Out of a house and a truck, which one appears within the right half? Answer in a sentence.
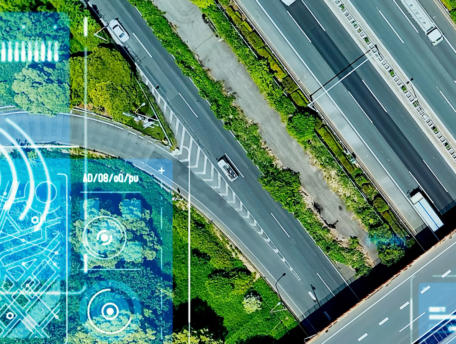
What appears within the right half is a truck.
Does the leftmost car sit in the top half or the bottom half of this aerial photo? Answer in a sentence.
Seen from above, the leftmost car lies in the top half of the view.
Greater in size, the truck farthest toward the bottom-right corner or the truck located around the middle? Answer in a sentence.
The truck farthest toward the bottom-right corner is larger than the truck located around the middle.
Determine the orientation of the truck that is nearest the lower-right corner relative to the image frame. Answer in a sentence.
What the image shows is the truck that is nearest the lower-right corner lying diagonally.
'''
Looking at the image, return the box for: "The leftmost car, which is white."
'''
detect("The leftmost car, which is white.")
[109,17,132,44]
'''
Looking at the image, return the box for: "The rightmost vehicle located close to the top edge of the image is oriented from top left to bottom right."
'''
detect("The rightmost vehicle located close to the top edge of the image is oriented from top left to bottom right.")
[400,0,448,50]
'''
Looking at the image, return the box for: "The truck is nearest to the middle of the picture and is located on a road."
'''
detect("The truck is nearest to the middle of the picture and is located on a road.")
[214,154,240,182]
